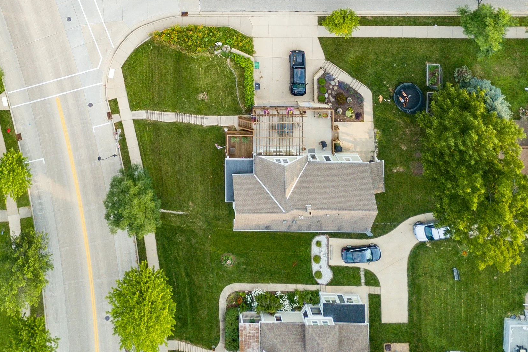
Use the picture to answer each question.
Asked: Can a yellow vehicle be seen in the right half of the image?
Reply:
No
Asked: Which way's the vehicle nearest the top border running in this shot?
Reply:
up and down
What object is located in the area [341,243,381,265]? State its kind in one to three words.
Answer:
car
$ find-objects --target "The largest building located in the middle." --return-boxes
[224,136,385,236]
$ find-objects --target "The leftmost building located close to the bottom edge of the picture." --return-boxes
[239,289,369,352]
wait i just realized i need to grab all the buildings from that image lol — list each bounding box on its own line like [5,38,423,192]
[224,136,385,236]
[239,289,369,352]
[506,302,528,352]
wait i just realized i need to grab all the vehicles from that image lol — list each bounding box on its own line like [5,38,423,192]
[341,243,381,265]
[288,49,309,96]
[410,220,457,244]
